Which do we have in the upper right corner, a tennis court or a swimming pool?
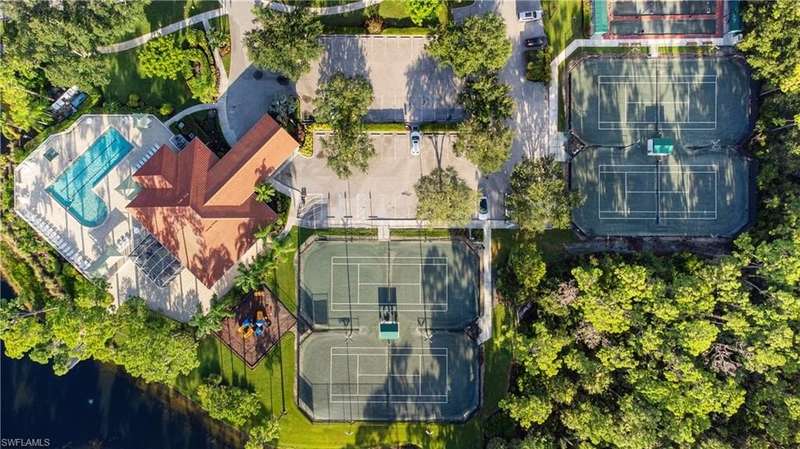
tennis court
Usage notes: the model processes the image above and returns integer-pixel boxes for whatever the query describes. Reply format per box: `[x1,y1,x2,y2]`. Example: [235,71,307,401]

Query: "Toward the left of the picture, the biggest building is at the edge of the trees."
[125,113,300,287]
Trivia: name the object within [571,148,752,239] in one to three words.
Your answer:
tennis court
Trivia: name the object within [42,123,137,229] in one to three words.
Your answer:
swimming pool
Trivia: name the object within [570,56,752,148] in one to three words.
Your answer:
tennis court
